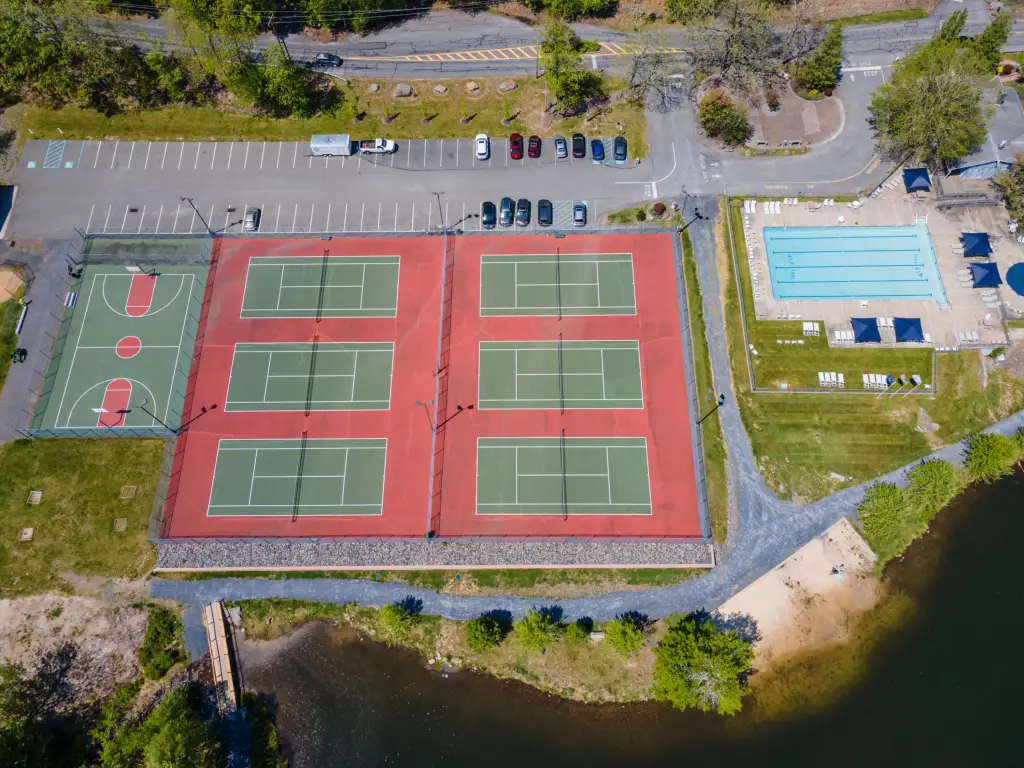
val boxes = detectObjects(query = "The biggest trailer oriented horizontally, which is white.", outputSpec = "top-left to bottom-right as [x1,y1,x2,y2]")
[309,134,357,155]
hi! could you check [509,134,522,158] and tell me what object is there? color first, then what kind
red vehicle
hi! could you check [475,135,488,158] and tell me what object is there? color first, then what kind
white vehicle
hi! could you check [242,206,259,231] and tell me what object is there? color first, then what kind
gray car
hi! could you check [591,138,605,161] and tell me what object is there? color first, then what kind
blue car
